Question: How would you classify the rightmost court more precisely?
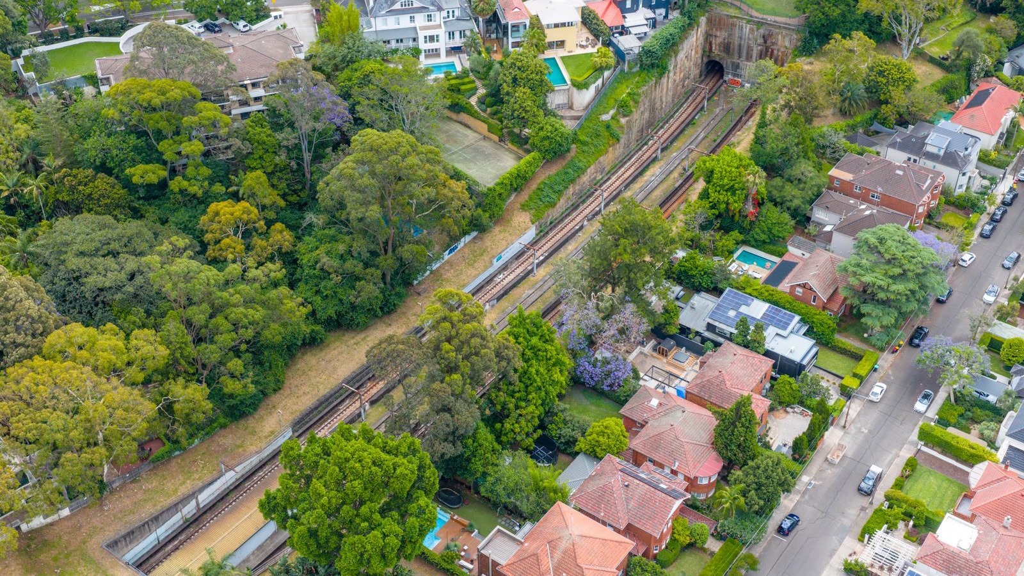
tennis court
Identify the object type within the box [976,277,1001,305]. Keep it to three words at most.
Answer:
car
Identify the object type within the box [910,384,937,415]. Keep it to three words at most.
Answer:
car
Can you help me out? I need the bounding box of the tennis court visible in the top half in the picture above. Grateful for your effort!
[411,122,522,188]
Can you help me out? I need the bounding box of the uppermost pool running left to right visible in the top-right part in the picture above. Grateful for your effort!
[927,108,956,122]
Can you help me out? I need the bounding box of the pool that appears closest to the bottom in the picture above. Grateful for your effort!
[420,509,452,552]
